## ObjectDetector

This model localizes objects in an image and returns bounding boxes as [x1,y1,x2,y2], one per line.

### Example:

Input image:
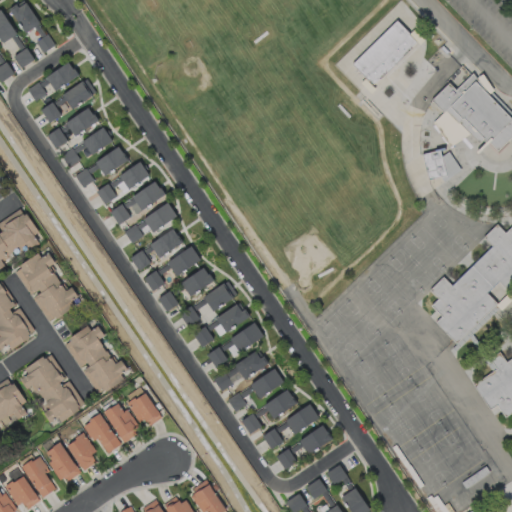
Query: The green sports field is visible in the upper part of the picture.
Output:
[86,0,434,316]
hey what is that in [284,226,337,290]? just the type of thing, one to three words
baseball field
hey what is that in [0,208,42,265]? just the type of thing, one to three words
building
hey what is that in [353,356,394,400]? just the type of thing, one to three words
basketball court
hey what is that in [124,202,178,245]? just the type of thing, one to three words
house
